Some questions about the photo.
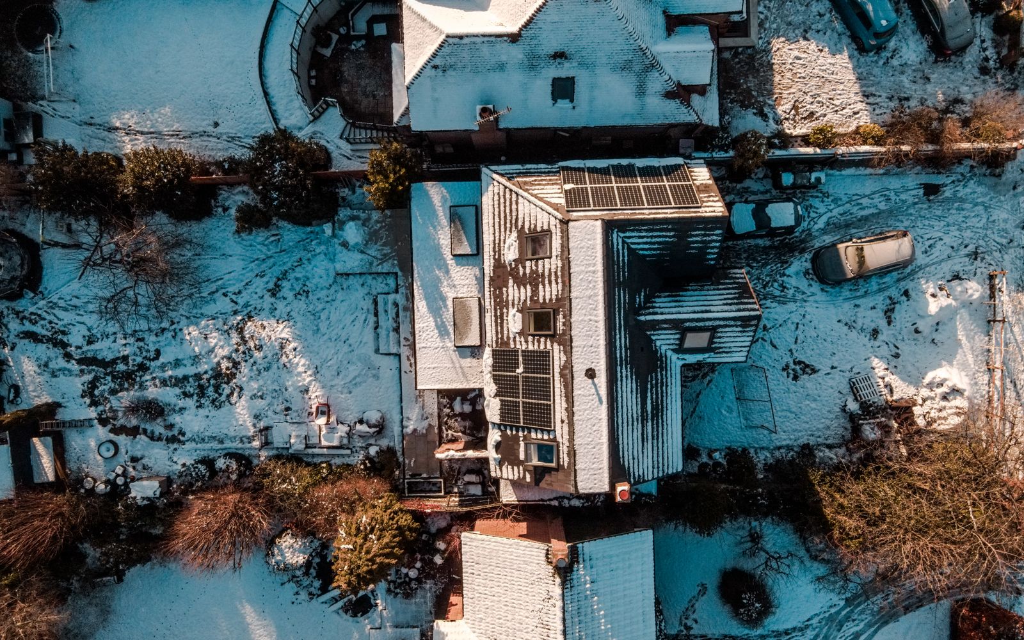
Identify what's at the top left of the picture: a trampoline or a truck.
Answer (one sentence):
The feature located at the top left of the picture is a trampoline.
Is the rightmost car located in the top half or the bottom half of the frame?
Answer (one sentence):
It is in the top half that the rightmost car appears.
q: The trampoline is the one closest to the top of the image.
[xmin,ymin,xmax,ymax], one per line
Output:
[14,4,70,58]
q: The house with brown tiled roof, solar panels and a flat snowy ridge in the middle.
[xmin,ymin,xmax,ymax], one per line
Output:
[408,158,766,507]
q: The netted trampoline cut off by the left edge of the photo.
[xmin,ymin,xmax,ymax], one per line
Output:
[0,226,47,301]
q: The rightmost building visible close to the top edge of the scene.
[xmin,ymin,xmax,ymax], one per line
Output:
[390,0,745,164]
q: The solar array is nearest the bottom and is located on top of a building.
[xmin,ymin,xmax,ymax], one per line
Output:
[488,348,550,430]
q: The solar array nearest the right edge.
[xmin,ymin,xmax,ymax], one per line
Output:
[560,161,704,208]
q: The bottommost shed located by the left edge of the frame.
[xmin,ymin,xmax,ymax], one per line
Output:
[0,425,42,501]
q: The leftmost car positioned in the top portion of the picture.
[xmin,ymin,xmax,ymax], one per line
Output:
[726,194,810,241]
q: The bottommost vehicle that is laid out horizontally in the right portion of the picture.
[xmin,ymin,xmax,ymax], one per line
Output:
[808,230,918,285]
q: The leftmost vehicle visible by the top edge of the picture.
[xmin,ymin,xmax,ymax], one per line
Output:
[822,0,903,57]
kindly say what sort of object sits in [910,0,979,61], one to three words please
car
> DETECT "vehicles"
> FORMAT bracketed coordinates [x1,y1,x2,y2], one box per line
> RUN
[808,230,918,285]
[822,0,903,57]
[910,0,979,61]
[726,194,810,241]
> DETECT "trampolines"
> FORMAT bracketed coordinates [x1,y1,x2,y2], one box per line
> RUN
[0,226,47,301]
[14,4,70,58]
